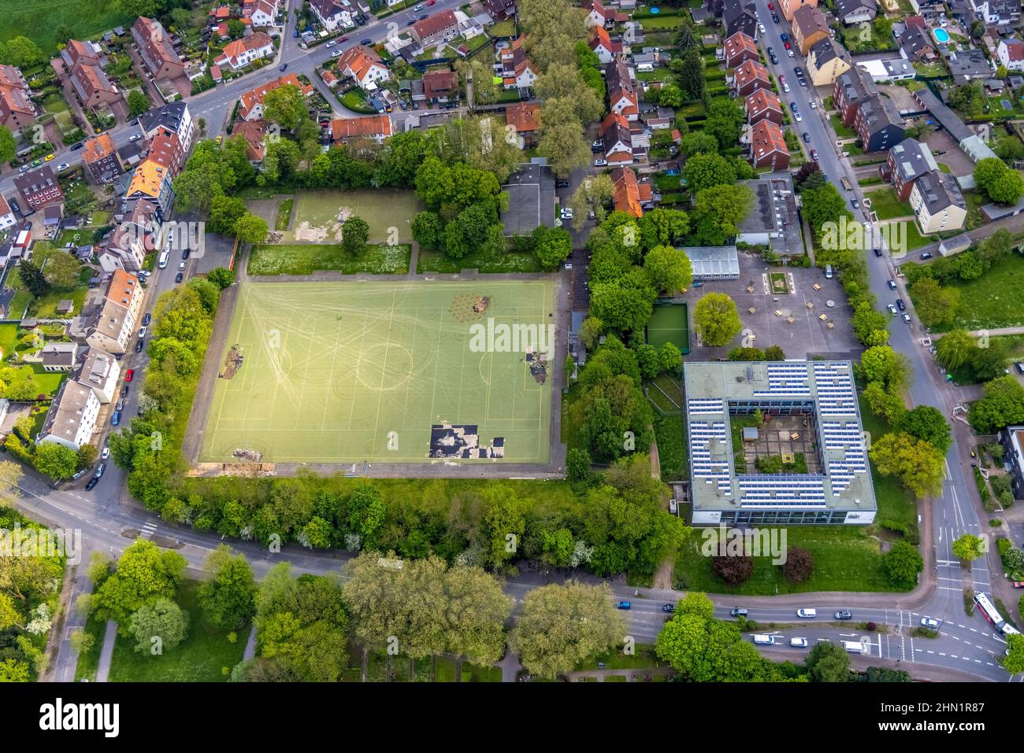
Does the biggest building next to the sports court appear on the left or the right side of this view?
right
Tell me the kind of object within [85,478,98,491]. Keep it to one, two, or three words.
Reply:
vehicle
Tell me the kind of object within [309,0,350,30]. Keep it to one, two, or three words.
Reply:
house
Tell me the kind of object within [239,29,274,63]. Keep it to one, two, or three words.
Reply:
house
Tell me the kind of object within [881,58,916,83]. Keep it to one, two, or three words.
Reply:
building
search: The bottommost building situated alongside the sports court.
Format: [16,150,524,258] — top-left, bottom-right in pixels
[680,359,878,528]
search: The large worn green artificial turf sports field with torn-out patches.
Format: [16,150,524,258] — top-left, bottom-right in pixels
[198,206,555,465]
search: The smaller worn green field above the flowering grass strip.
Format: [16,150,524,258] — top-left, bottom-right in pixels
[288,190,429,242]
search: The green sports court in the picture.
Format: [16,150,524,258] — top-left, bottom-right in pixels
[646,300,692,352]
